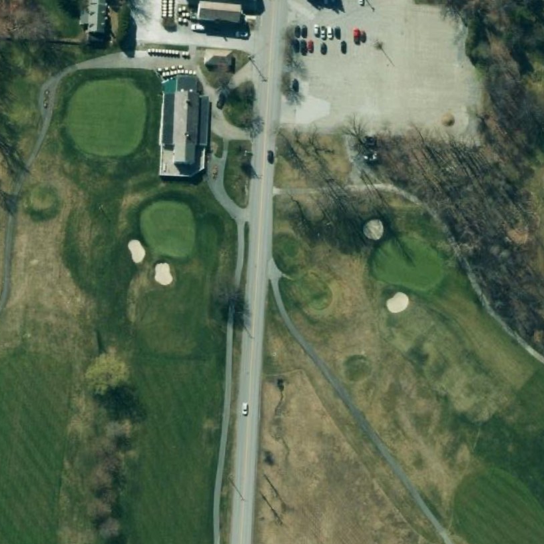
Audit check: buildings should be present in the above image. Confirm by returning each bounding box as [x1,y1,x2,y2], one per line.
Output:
[79,0,105,33]
[199,1,241,24]
[159,75,209,178]
[205,49,233,64]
